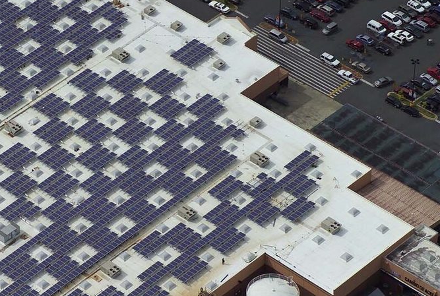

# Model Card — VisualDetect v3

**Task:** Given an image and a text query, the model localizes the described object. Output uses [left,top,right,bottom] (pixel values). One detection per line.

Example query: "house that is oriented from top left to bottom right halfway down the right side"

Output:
[310,103,440,206]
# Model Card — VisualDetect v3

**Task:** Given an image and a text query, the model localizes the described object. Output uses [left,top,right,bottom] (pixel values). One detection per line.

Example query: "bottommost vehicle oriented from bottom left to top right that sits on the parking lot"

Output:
[374,74,393,90]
